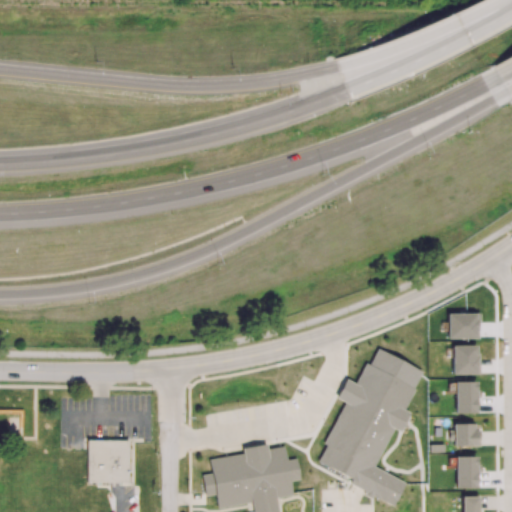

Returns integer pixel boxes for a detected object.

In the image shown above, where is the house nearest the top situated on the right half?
[450,313,482,340]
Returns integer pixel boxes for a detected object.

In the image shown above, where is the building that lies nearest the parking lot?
[88,438,131,486]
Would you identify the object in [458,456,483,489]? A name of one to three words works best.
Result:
house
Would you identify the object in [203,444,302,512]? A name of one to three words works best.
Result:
building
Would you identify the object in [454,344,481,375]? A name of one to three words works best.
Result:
house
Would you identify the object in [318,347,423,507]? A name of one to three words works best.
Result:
building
